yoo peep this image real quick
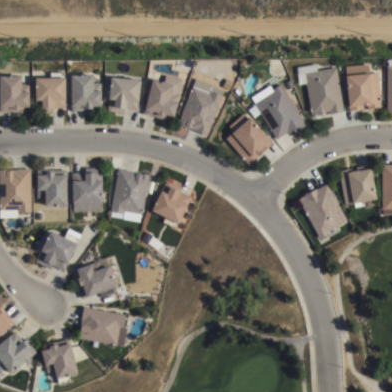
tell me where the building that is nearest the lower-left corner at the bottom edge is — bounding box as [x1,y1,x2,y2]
[0,331,34,375]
